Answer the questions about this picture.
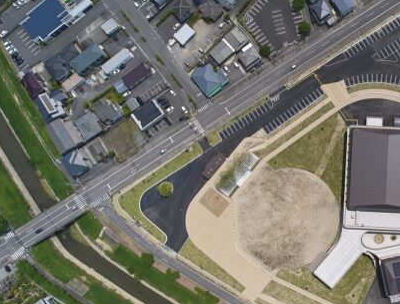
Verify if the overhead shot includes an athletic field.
Yes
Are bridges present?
Yes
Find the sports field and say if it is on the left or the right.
right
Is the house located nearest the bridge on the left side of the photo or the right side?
left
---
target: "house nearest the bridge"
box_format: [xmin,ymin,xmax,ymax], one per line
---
[60,150,93,178]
